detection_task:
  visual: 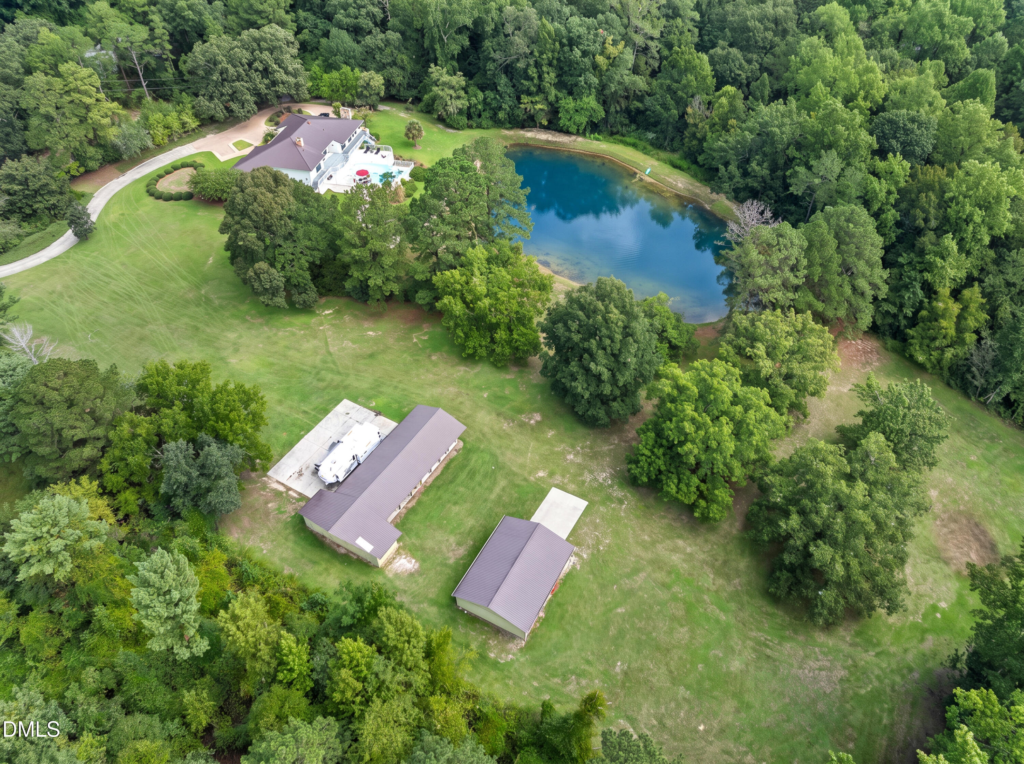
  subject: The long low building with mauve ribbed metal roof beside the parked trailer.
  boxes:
[297,403,467,567]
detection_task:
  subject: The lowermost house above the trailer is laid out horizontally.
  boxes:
[231,106,386,189]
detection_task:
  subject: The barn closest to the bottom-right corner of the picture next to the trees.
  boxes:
[450,514,576,643]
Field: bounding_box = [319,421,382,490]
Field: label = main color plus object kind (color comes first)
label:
white trailer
